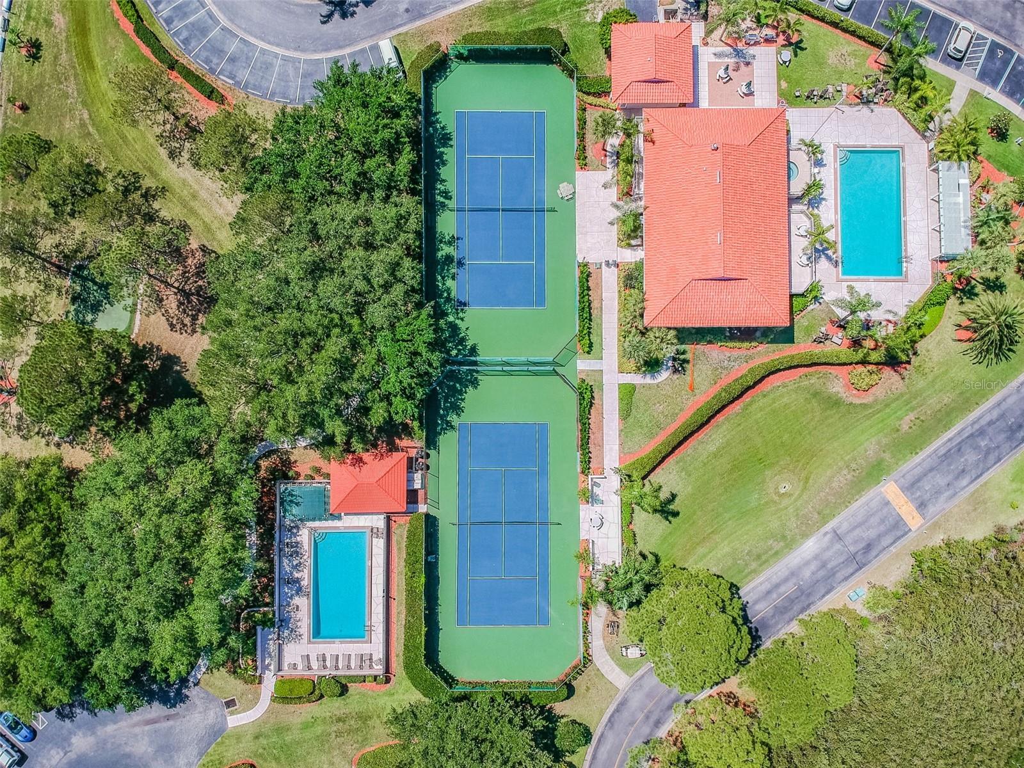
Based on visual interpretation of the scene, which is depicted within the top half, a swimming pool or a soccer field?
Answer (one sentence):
Visible within the top half is a swimming pool.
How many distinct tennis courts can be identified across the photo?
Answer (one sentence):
Altogether the scene contains 2 tennis courts.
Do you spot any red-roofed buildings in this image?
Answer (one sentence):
Yes, the picture does show a red-roofed building.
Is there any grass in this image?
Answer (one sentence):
Yes, there is grass in the image.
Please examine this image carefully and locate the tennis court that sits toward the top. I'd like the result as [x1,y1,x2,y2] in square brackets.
[425,57,577,365]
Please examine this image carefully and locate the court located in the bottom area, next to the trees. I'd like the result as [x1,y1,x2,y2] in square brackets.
[428,365,580,681]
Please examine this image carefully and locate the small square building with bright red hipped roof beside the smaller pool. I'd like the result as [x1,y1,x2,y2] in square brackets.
[330,452,407,514]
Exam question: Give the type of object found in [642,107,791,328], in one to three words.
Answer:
building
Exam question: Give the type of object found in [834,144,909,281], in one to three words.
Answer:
swimming pool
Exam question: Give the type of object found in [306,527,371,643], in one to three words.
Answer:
swimming pool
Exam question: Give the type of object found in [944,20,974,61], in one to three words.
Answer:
car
